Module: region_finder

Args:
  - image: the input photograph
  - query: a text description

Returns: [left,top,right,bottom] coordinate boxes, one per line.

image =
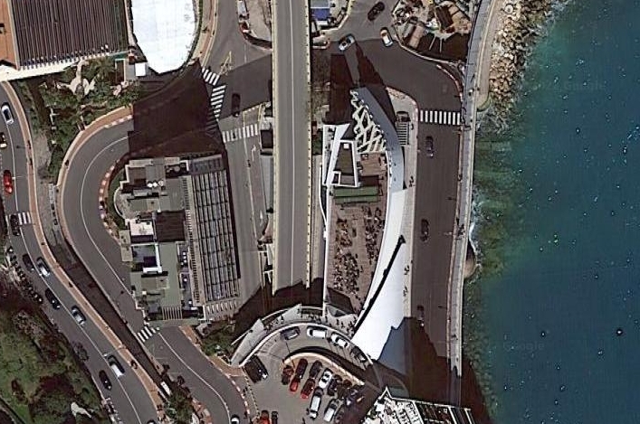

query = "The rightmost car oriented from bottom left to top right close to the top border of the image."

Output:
[368,1,386,20]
